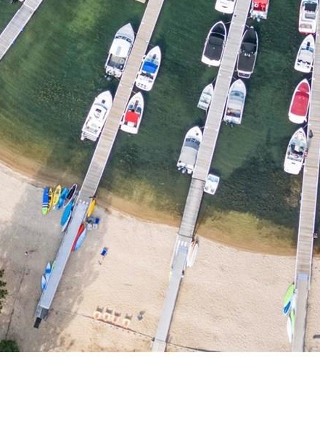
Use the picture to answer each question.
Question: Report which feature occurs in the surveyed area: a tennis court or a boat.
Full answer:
There is a boat in the scene.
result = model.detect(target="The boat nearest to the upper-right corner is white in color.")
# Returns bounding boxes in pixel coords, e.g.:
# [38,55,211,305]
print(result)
[298,0,318,35]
